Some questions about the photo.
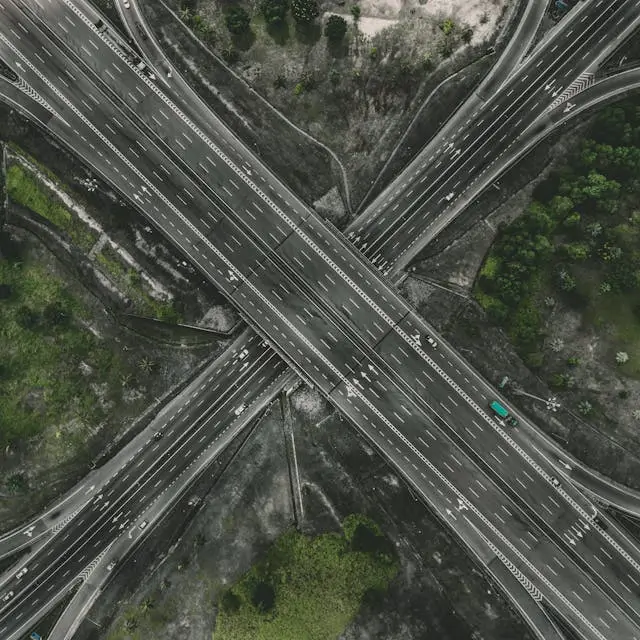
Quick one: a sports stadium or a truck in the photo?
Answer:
truck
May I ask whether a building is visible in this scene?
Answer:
No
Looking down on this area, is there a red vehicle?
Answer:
No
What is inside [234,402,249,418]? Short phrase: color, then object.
white vehicle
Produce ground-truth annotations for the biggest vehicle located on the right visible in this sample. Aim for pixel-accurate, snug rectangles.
[488,399,520,428]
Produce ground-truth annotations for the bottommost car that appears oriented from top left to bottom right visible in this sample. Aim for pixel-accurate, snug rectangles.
[595,518,609,532]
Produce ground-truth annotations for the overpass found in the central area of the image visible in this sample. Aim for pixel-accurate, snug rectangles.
[227,211,418,397]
